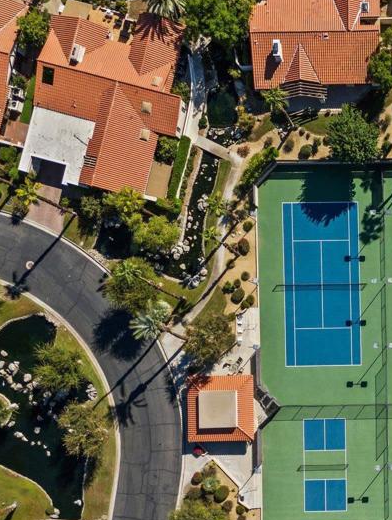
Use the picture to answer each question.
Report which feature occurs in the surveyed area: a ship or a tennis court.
tennis court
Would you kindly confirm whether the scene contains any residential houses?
Yes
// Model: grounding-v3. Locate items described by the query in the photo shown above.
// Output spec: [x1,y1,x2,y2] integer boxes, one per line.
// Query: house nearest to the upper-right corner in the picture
[250,0,380,92]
